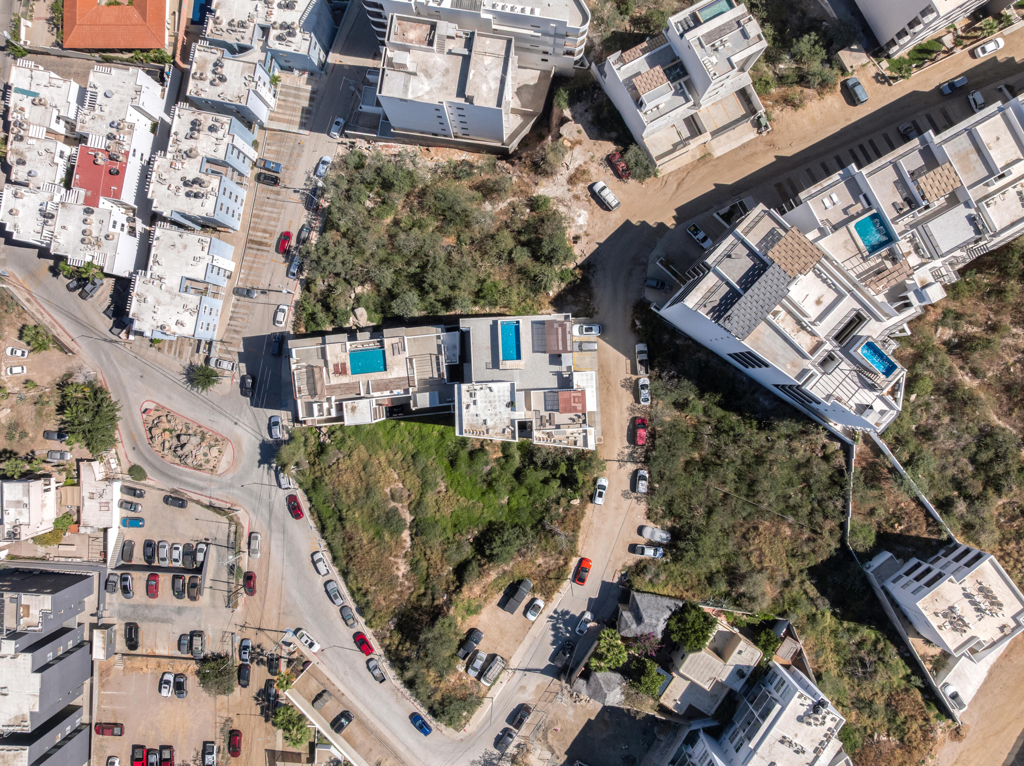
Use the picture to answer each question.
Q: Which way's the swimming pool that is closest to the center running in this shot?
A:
up and down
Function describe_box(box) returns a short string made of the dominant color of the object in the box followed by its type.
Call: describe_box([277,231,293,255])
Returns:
red car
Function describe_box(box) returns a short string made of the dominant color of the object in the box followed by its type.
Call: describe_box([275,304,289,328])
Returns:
white car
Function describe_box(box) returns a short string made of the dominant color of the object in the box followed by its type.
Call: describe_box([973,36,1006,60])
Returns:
white car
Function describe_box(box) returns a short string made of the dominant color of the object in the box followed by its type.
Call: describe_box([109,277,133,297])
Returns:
black car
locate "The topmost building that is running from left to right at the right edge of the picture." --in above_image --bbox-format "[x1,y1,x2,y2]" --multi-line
[868,0,989,58]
